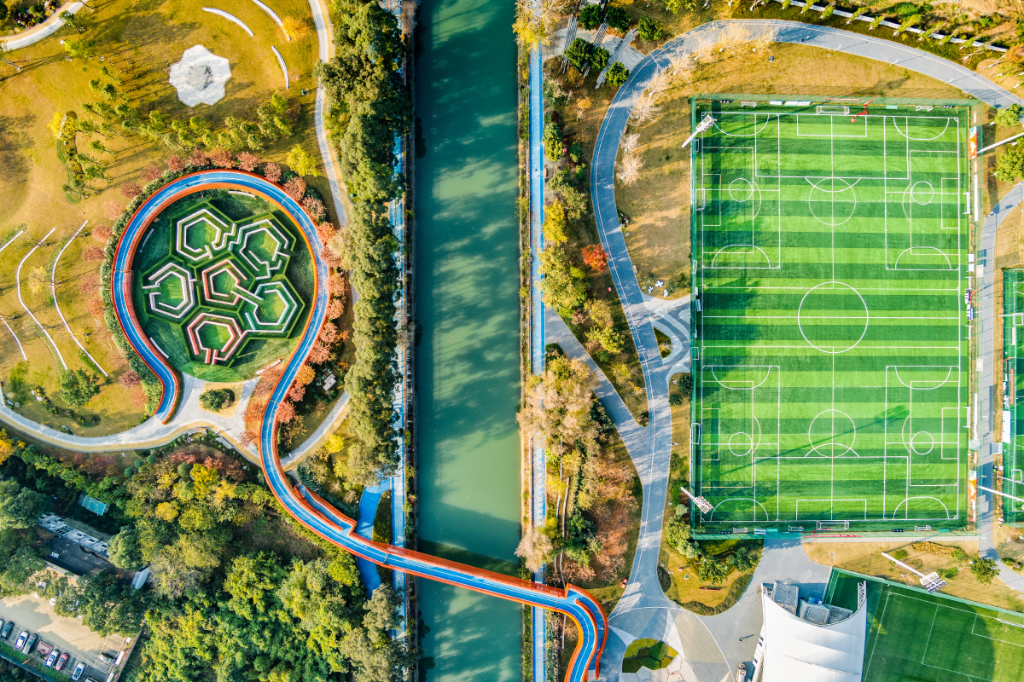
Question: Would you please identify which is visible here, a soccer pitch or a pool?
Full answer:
I can see a soccer pitch in this picture.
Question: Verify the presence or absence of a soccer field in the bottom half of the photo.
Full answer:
Yes, there is a soccer field in the bottom half of the photo.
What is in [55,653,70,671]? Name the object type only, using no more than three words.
car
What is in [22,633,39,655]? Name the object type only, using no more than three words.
car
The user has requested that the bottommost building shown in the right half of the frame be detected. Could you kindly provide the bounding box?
[745,577,874,682]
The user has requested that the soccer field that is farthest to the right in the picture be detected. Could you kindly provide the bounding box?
[1004,272,1024,523]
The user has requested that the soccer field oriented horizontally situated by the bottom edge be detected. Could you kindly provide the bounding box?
[817,570,1024,682]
